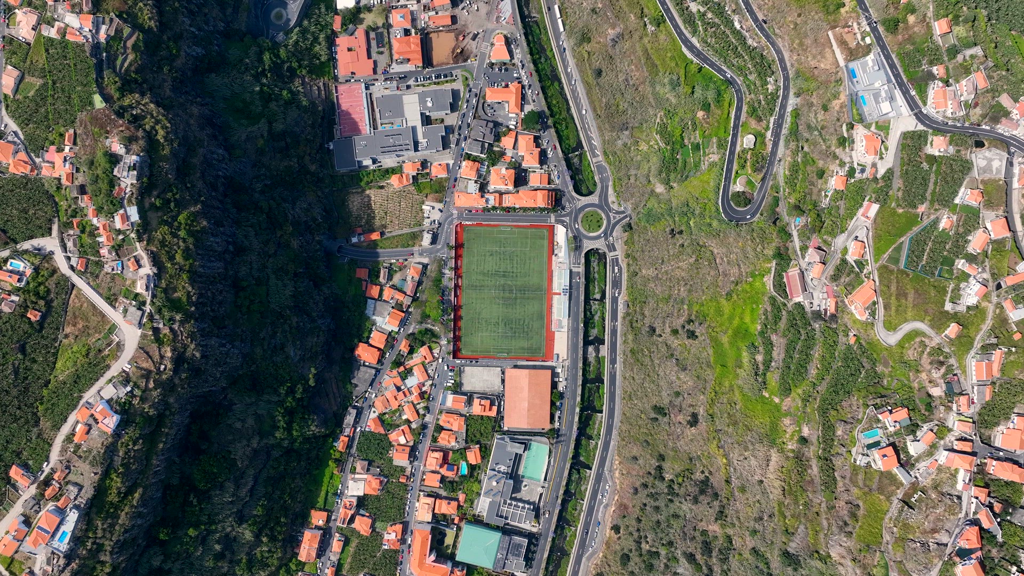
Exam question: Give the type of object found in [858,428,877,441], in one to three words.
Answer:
swimming pool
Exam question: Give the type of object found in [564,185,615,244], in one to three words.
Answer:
roundabout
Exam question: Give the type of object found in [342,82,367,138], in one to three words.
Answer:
basketball court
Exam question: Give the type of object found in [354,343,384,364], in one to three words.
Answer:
house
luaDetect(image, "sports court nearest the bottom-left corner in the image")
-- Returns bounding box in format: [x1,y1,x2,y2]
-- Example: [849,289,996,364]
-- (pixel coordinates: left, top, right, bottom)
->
[460,367,501,391]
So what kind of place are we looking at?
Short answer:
residential area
